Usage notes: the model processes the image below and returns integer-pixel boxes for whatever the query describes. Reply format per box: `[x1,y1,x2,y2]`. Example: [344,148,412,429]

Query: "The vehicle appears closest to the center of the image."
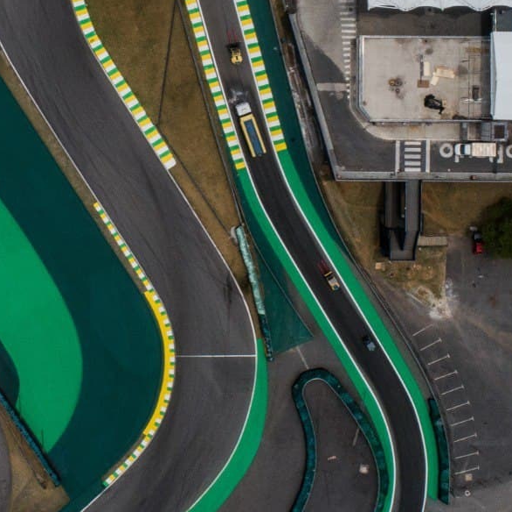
[315,257,338,288]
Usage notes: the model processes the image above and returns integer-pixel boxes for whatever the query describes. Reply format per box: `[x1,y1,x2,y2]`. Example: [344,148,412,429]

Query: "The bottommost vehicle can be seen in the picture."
[360,331,375,351]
